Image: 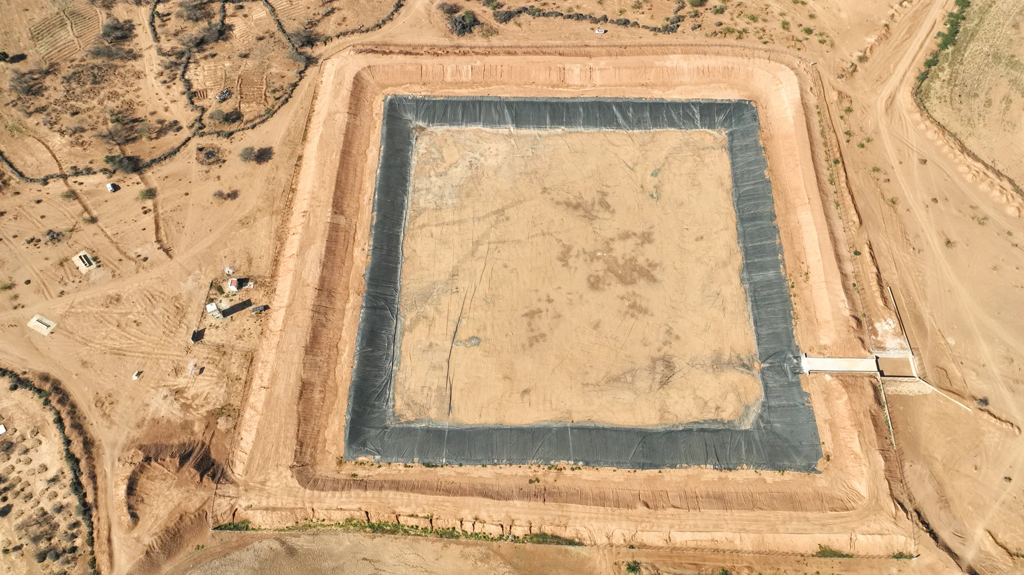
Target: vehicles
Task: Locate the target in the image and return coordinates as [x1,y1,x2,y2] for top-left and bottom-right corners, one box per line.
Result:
[596,28,605,33]
[107,183,114,192]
